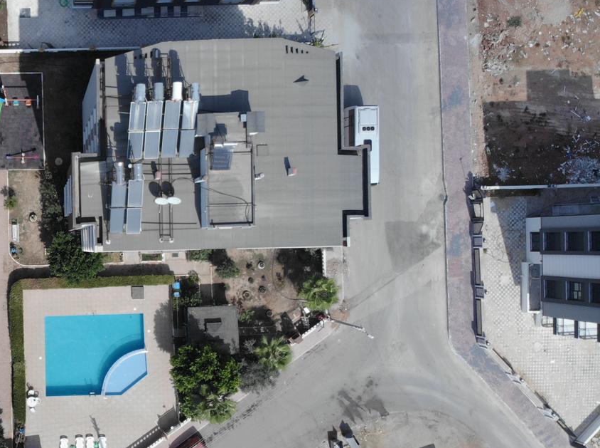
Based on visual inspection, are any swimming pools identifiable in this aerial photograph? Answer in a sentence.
Yes, there's a swimming pool here.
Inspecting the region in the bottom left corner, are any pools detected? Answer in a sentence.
Yes, a pool is visible in the bottom left corner.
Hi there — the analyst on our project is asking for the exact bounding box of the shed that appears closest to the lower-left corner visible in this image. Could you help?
[184,306,238,354]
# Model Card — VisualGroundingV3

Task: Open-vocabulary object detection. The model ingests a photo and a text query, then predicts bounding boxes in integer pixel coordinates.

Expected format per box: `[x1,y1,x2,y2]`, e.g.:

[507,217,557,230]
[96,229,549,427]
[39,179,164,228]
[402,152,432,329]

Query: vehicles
[346,109,379,187]
[177,435,209,448]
